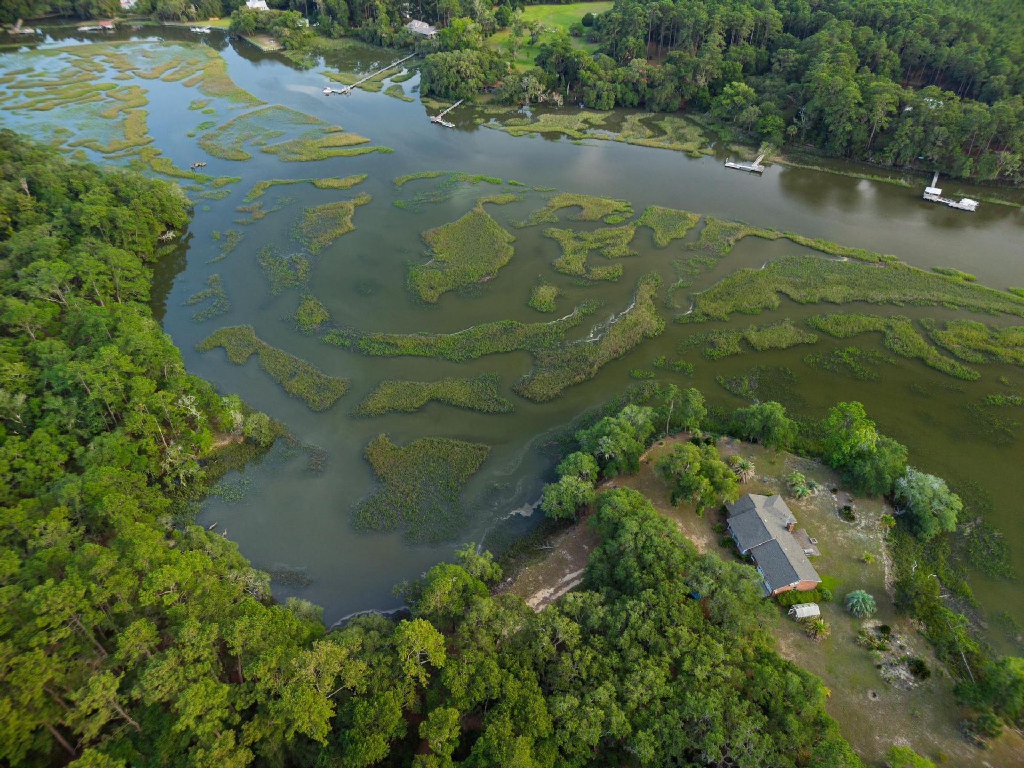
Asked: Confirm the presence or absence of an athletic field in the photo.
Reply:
No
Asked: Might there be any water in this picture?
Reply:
Yes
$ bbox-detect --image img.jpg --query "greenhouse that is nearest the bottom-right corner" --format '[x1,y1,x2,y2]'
[788,605,826,630]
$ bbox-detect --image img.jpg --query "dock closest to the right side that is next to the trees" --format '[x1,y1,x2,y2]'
[922,168,979,212]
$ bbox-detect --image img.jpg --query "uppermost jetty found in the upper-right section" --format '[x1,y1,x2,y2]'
[725,142,772,175]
